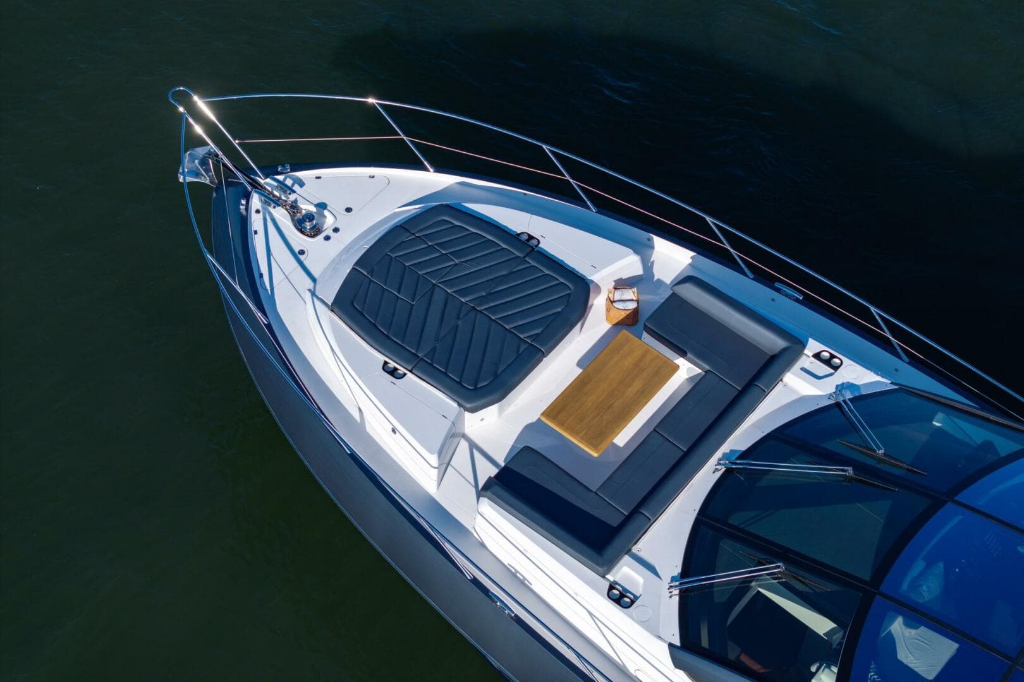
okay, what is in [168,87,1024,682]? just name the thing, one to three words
boat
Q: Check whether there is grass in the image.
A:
No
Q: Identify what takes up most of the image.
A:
water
